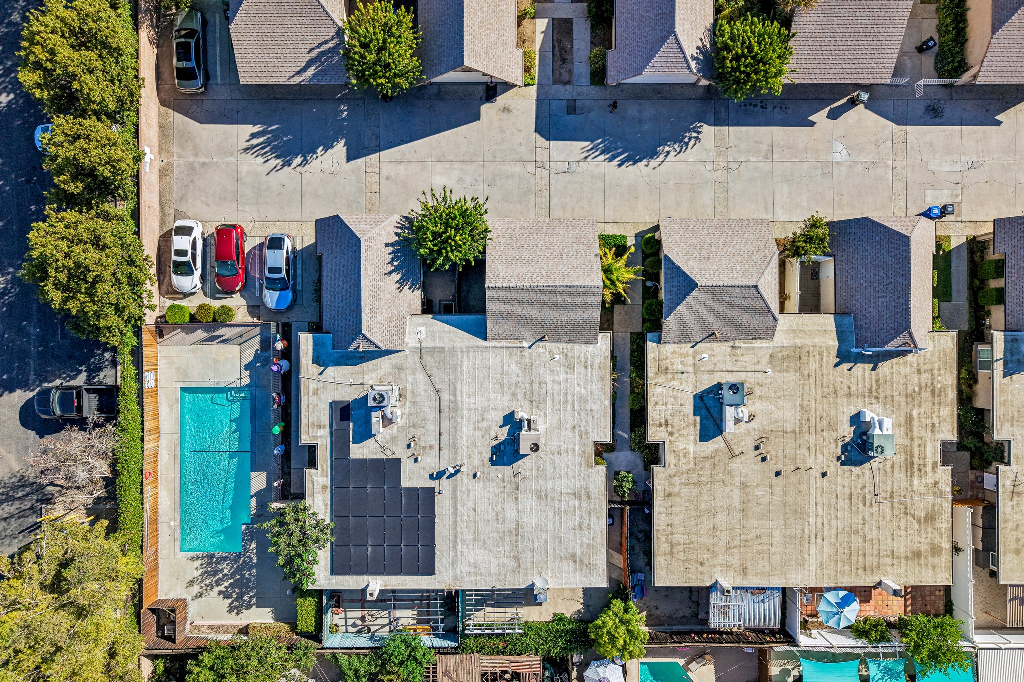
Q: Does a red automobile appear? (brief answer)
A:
Yes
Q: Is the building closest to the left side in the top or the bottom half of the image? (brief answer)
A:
top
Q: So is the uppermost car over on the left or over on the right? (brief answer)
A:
left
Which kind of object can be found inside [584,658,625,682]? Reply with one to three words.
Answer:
umbrella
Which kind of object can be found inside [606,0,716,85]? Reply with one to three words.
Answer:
building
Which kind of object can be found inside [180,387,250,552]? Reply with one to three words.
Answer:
swimming pool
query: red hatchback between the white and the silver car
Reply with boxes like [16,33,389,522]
[210,224,248,293]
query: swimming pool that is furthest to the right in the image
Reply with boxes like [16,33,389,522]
[640,662,689,682]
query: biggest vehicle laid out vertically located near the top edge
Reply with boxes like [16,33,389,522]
[168,11,209,94]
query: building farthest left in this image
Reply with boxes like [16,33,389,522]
[228,0,353,85]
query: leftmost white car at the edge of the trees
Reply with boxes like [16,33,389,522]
[166,220,206,296]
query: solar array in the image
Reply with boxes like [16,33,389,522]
[332,401,437,575]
